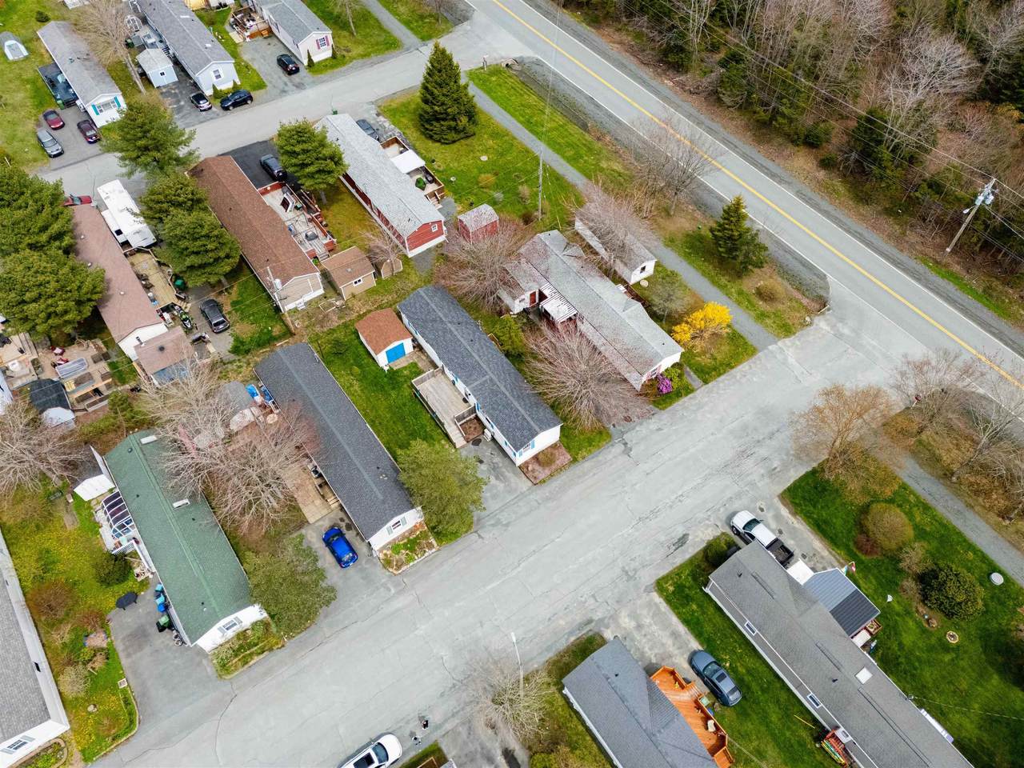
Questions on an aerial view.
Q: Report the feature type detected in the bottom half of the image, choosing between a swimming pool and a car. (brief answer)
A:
car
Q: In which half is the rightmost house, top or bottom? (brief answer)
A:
bottom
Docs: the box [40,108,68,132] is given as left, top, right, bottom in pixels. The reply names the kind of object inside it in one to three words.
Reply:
car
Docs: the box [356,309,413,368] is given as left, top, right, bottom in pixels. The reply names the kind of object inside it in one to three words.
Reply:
shed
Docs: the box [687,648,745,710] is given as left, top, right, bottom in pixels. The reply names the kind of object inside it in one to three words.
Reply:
car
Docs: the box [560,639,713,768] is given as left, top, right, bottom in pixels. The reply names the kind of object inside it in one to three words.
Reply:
house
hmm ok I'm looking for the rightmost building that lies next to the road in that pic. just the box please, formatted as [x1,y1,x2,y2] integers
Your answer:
[705,540,968,768]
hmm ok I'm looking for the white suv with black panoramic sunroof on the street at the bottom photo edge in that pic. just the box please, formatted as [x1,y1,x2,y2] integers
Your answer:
[335,731,401,768]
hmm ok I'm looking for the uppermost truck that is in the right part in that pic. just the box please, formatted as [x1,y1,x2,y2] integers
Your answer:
[727,510,799,568]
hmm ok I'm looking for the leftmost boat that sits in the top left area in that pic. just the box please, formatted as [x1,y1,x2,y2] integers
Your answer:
[3,34,21,56]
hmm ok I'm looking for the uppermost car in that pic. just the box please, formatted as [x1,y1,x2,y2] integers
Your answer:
[276,55,300,74]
